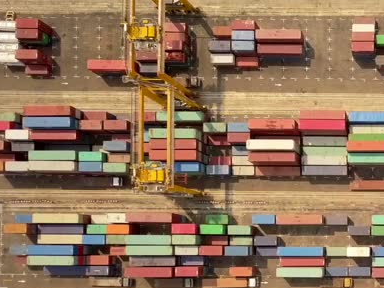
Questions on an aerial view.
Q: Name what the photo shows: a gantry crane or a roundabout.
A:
gantry crane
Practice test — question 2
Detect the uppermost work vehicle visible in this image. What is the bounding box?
[3,8,17,23]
